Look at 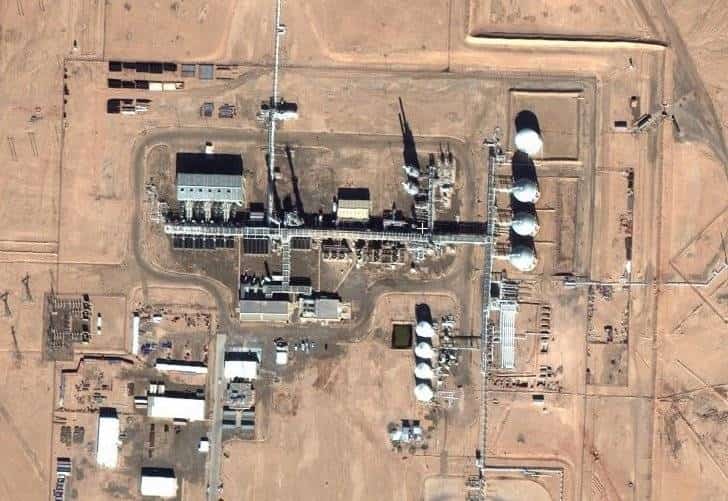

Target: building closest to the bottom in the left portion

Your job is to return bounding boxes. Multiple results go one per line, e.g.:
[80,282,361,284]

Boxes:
[141,476,178,497]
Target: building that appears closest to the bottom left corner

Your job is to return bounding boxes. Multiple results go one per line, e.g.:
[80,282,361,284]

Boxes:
[97,418,119,469]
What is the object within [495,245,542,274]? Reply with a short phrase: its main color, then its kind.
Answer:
white storage tank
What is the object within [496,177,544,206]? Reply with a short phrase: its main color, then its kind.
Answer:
white storage tank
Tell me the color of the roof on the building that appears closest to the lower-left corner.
white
